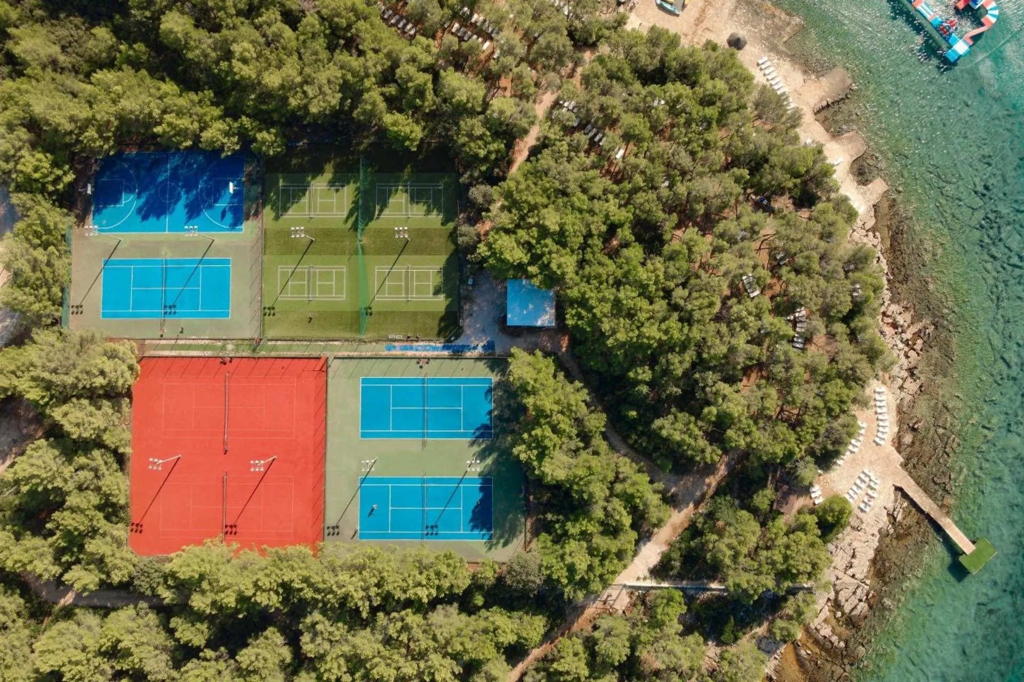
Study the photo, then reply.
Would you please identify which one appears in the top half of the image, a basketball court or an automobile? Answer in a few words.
basketball court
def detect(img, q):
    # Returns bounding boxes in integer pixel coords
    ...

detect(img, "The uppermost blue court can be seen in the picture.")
[92,151,245,233]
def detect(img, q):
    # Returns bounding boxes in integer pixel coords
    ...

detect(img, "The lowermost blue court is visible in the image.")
[359,477,493,540]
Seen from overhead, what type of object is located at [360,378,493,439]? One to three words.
tennis court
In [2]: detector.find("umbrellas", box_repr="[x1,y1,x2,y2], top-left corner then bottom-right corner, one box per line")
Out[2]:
[726,32,746,52]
